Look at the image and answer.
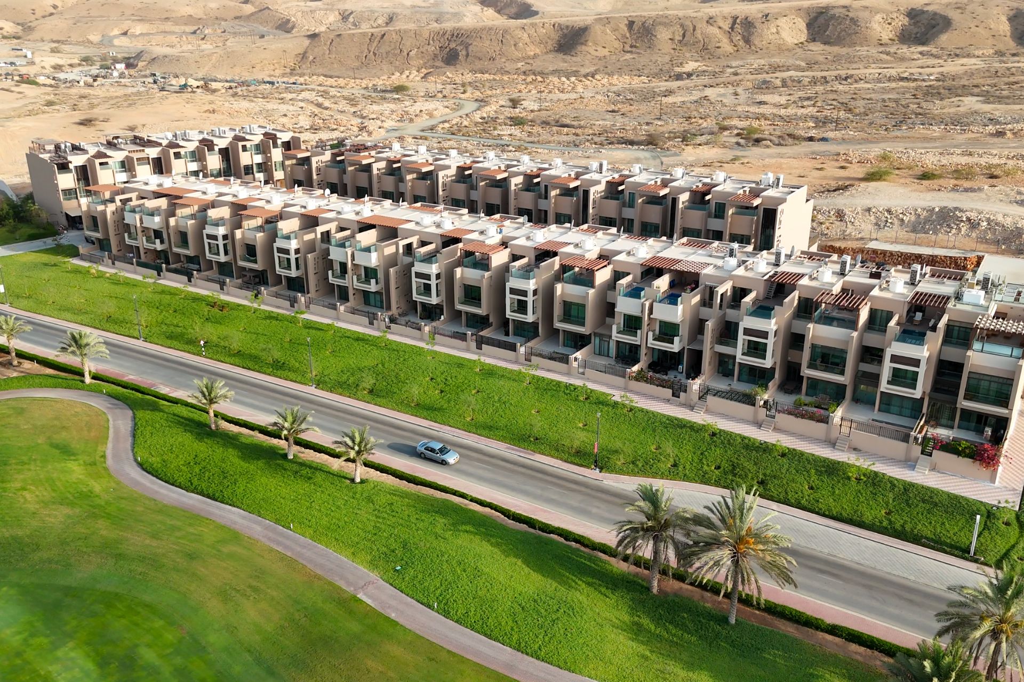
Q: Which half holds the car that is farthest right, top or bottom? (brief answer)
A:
bottom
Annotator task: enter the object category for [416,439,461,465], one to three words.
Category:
car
